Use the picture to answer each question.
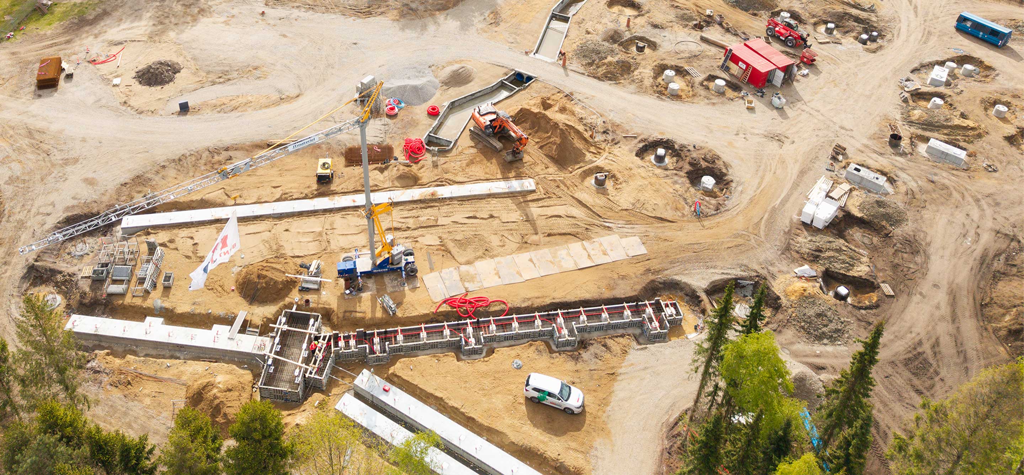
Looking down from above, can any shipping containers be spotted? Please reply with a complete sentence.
Yes, I can see a shipping container in this picture.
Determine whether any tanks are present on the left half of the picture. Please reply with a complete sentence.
No, the scene shows no tank on the left half of the picture.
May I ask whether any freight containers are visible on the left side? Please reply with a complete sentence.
No, on the left side there is no freight container.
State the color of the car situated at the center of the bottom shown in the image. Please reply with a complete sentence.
The car situated at the center of the bottom looks white in the image.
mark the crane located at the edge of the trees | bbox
[19,84,425,293]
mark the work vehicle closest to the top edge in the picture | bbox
[766,15,812,52]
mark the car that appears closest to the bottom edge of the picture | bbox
[523,373,585,411]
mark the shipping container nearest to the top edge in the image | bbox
[953,9,1012,47]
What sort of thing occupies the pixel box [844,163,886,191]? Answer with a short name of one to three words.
storage tank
